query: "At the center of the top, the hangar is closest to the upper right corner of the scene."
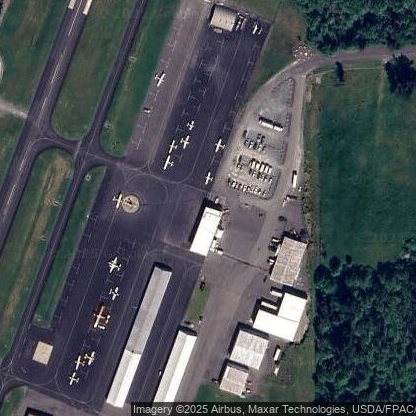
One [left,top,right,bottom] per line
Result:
[211,6,239,31]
